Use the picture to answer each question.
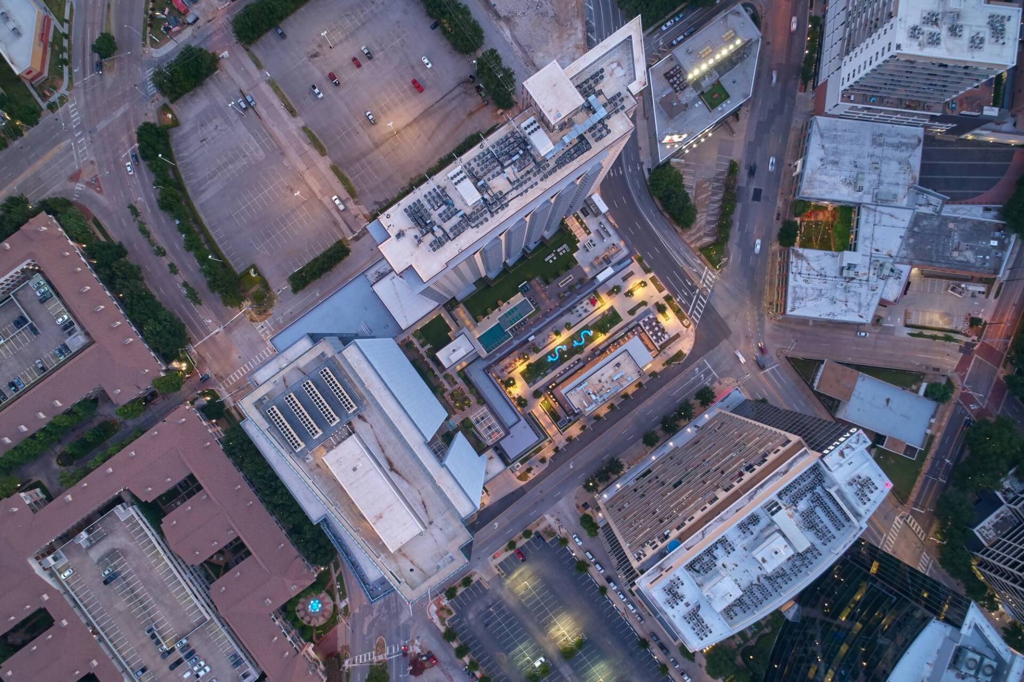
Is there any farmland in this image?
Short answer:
No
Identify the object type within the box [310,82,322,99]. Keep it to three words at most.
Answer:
vehicle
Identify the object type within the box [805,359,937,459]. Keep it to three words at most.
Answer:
building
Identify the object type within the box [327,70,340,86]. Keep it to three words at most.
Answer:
vehicle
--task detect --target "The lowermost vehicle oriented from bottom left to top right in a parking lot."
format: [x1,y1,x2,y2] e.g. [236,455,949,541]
[532,656,547,670]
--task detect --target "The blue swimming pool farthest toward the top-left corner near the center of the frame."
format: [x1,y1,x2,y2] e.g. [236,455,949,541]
[477,297,536,355]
